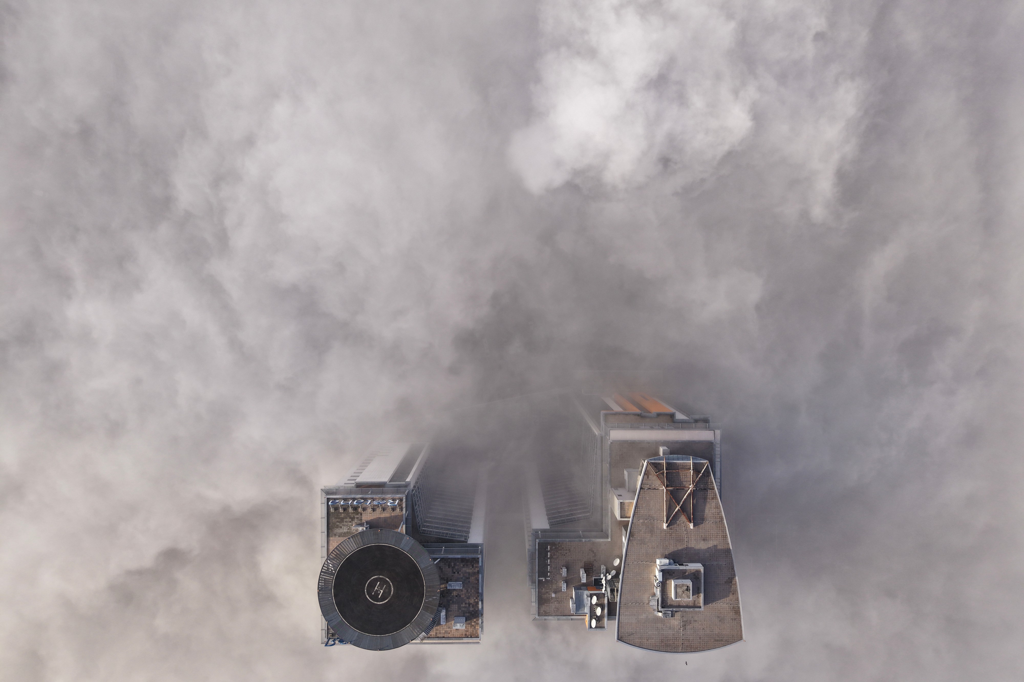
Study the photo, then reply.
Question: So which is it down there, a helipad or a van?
helipad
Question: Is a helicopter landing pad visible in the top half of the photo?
No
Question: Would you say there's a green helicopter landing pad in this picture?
No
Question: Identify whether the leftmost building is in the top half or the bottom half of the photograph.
bottom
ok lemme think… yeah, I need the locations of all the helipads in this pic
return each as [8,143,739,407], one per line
[317,519,441,652]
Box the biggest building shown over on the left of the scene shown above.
[321,441,492,645]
